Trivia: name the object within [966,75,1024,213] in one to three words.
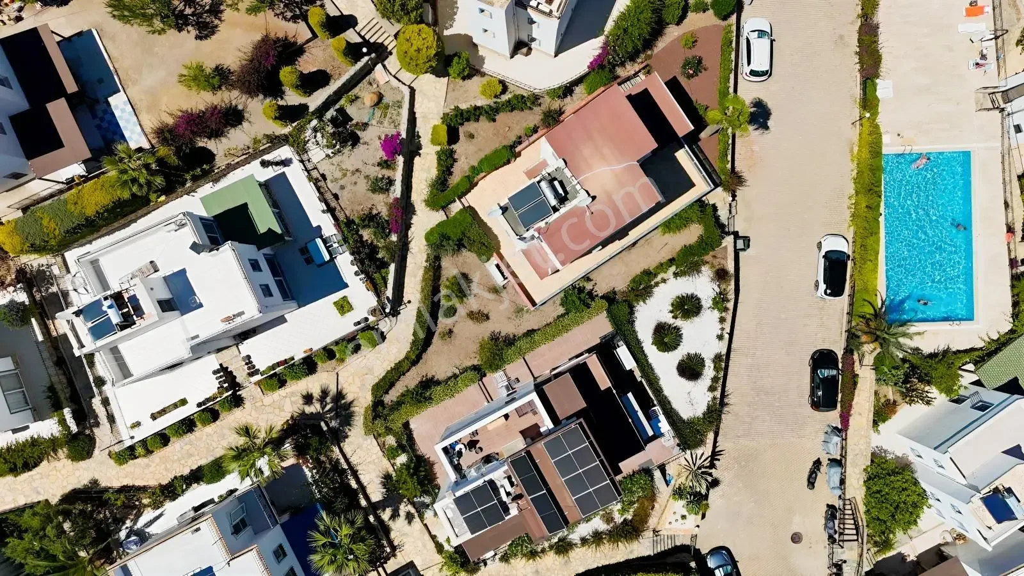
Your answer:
building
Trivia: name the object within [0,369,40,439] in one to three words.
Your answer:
house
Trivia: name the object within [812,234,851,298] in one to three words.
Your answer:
car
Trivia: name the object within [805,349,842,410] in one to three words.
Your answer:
car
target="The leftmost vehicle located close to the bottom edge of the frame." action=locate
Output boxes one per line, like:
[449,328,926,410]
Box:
[705,542,742,576]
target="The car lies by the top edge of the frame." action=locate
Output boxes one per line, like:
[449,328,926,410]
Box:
[739,19,775,83]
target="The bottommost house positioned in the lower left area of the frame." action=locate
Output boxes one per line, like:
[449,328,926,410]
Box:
[84,473,315,576]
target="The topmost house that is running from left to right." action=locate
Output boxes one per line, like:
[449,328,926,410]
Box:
[466,0,583,57]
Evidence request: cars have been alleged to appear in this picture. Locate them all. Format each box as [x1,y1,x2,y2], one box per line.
[812,234,851,298]
[805,349,842,410]
[739,19,775,83]
[705,542,742,576]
